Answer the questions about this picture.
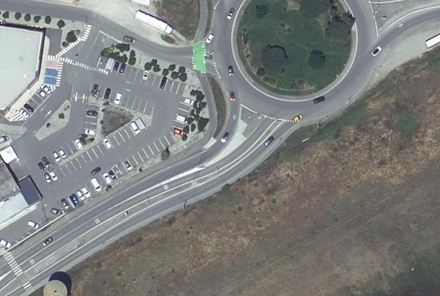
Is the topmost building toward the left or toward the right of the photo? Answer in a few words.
left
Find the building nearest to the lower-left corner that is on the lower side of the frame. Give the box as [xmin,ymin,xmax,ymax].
[0,192,29,222]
